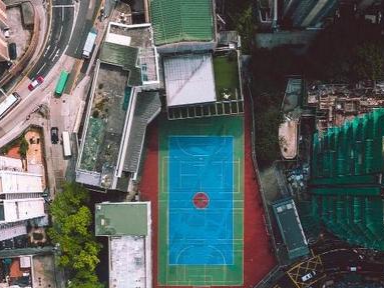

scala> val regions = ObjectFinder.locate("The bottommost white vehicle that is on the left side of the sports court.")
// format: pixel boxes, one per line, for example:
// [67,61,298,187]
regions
[61,131,75,159]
